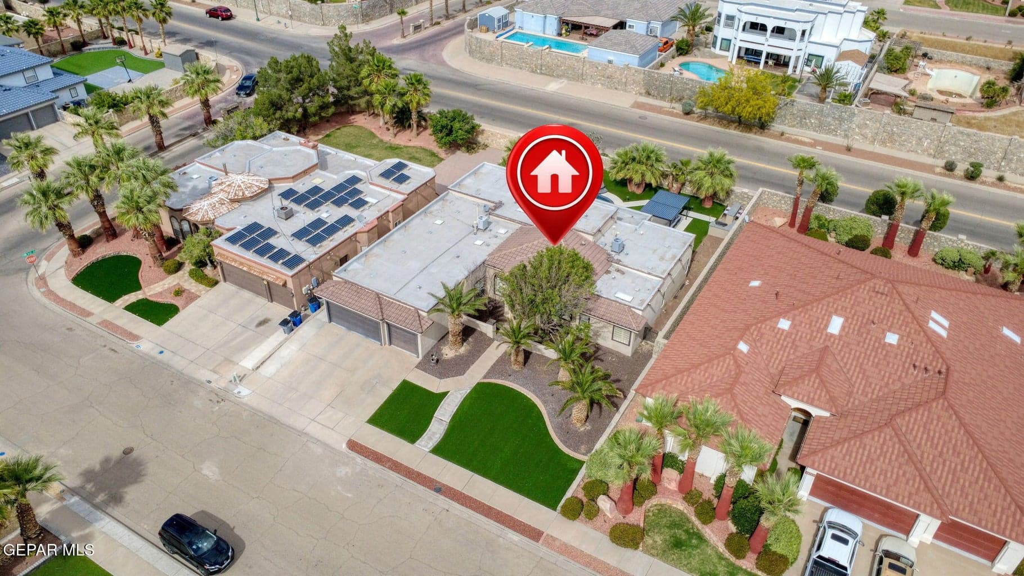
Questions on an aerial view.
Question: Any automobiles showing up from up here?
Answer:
Yes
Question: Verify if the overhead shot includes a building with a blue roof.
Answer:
Yes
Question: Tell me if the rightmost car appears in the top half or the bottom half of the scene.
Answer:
bottom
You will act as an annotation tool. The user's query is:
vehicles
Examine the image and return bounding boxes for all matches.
[655,37,684,57]
[156,508,237,572]
[878,534,928,576]
[205,6,234,21]
[235,77,265,98]
[812,508,869,576]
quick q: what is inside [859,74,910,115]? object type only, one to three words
building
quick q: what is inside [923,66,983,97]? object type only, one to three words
swimming pool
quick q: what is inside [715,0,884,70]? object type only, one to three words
house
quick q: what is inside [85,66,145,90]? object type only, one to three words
sports court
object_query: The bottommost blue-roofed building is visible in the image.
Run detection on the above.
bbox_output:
[640,188,690,227]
